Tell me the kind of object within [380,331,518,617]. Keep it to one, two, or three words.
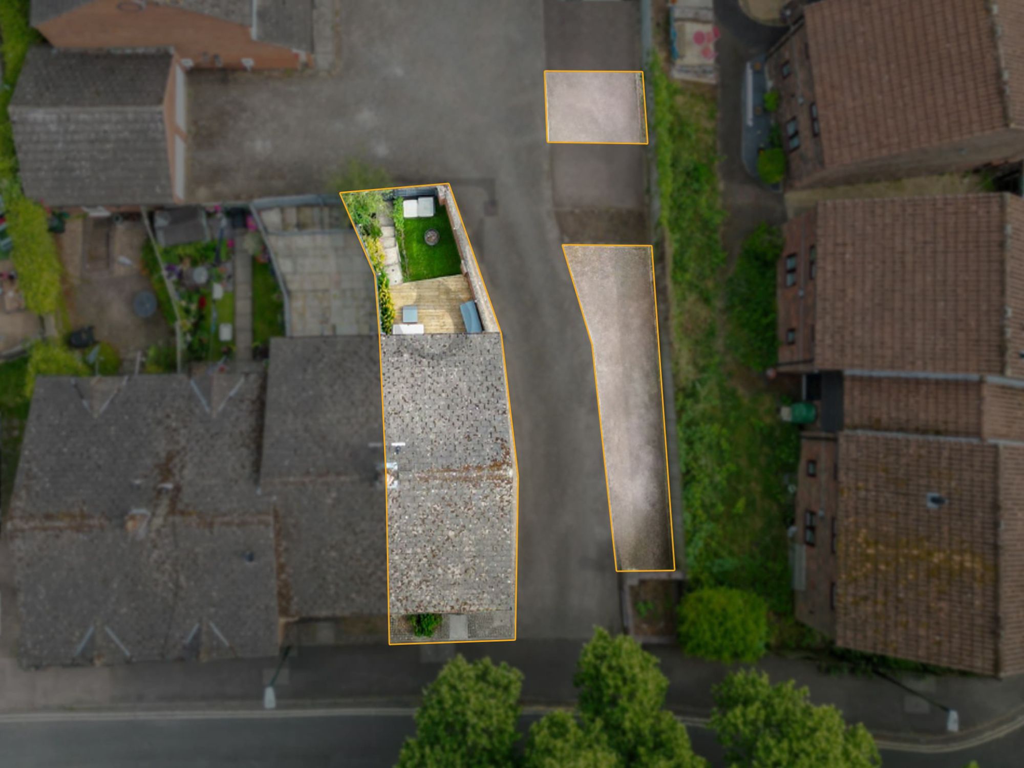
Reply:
house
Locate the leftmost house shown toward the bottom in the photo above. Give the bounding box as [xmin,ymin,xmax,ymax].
[3,372,171,672]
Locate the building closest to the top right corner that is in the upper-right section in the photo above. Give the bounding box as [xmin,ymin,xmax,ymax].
[767,0,1024,197]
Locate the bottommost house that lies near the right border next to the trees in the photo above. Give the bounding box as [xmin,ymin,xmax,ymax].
[799,428,1024,678]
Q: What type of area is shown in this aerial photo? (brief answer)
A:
residential area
